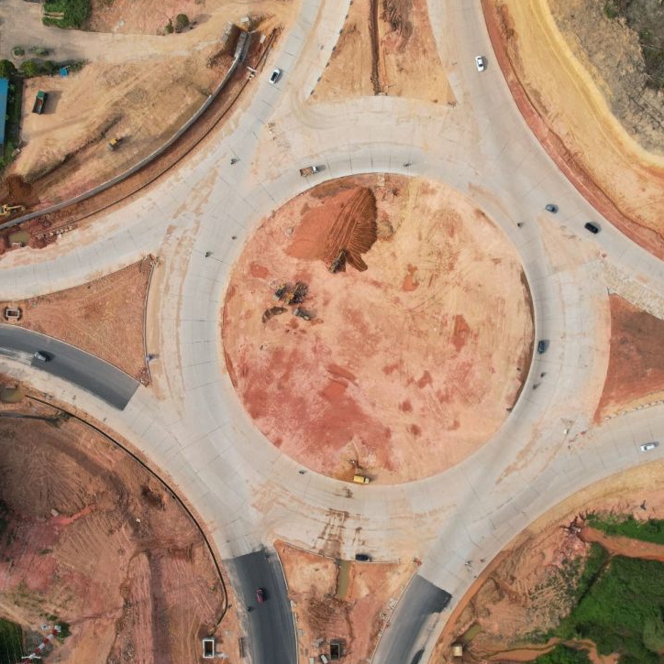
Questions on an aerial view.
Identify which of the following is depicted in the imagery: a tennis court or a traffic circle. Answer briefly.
traffic circle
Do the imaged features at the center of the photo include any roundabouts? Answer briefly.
Yes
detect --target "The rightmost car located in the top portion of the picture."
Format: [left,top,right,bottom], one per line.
[584,221,600,234]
